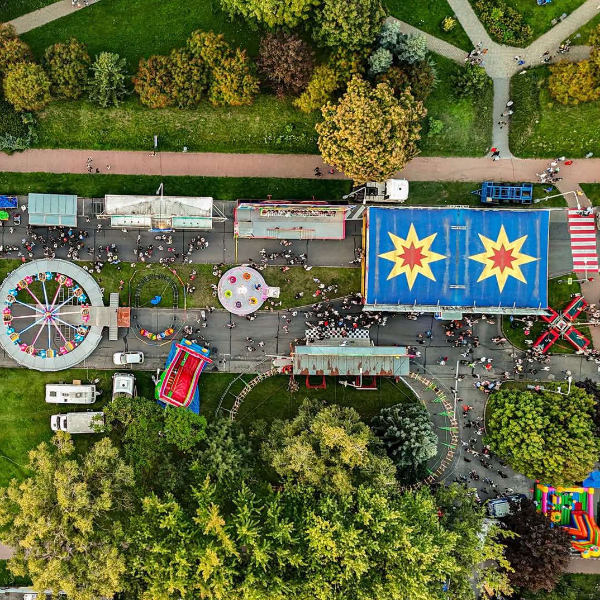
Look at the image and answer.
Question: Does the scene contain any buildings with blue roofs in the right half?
Yes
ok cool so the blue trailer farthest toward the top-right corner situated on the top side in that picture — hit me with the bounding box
[465,181,531,204]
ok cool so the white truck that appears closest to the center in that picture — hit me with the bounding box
[361,179,407,201]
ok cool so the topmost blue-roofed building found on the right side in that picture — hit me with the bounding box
[355,206,554,315]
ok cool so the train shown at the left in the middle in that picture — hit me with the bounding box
[140,328,173,341]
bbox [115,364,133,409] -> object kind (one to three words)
vehicle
